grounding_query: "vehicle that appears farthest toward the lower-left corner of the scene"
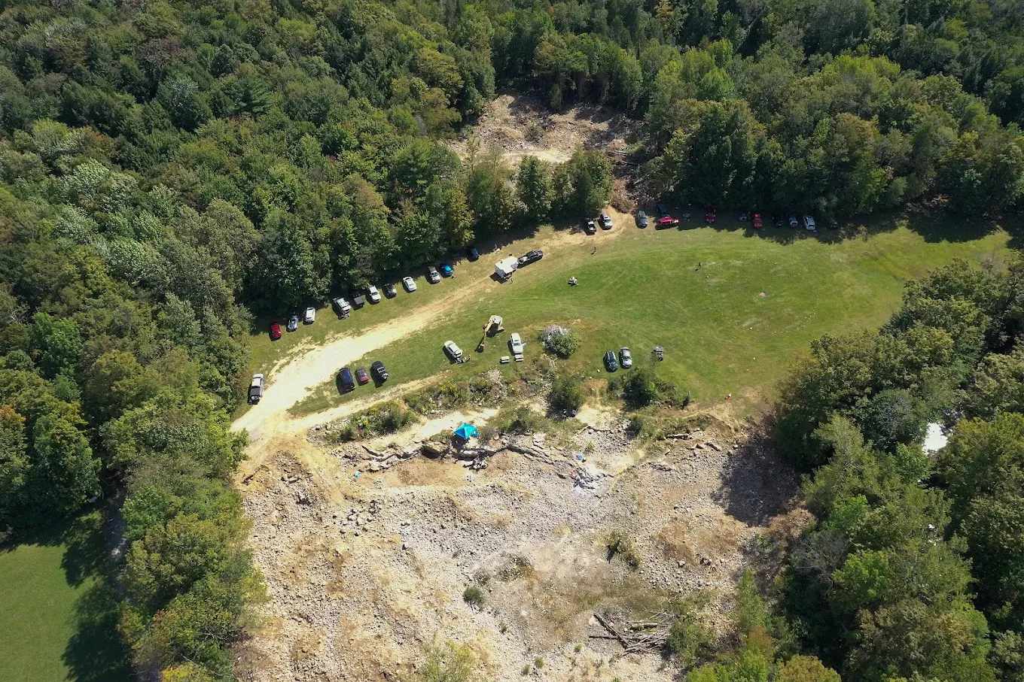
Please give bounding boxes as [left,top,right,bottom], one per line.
[248,374,264,403]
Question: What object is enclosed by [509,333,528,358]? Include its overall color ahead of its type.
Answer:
white vehicle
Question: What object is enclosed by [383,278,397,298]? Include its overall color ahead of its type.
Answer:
black vehicle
